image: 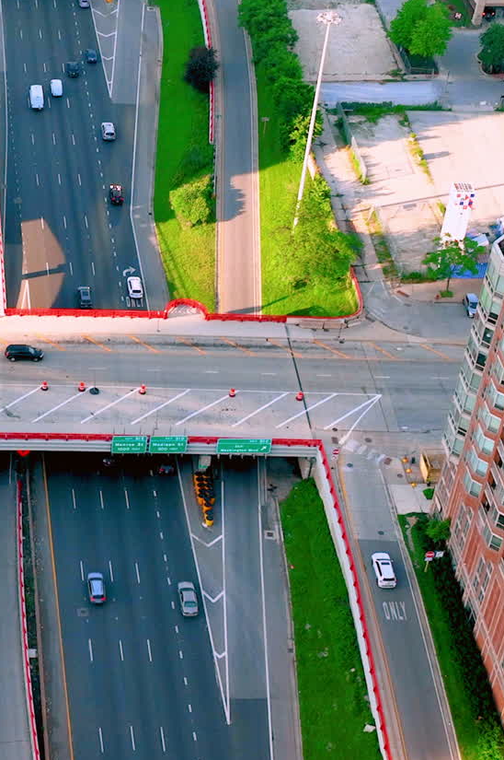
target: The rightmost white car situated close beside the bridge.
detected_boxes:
[127,273,145,298]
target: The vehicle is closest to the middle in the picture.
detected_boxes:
[155,453,176,482]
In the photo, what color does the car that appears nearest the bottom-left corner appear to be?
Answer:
blue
